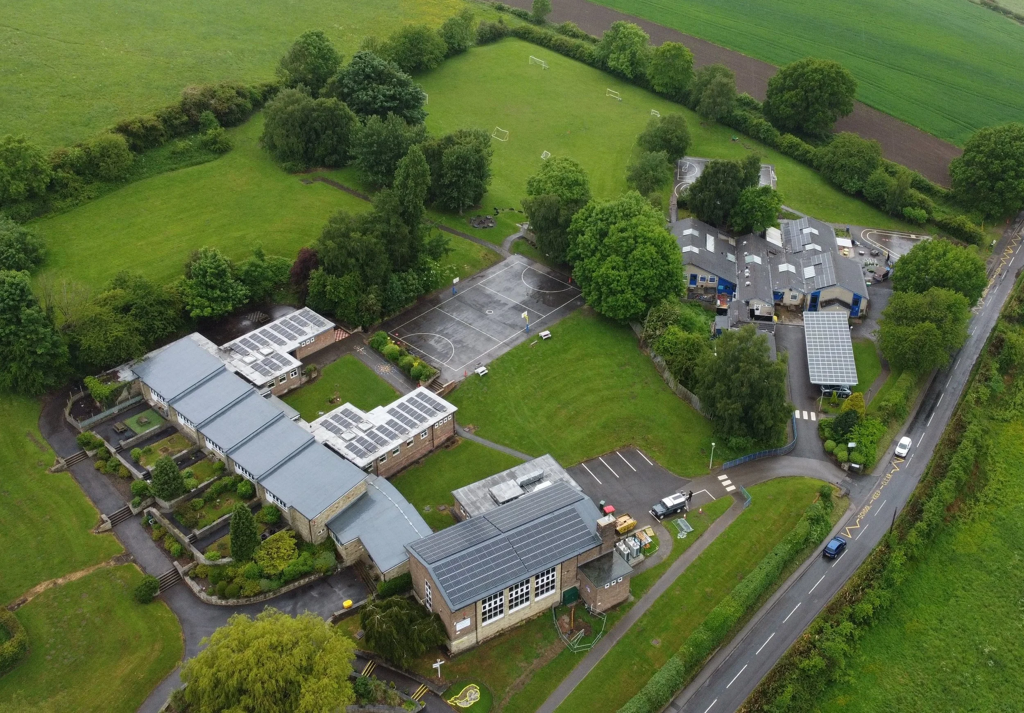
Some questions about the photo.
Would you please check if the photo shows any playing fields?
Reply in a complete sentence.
Yes, the frame does contain a playing field.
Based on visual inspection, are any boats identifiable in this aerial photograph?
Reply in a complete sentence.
No, no boat can be seen from above.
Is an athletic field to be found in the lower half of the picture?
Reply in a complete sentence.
No, there's no athletic field to be seen in the lower half of the picture.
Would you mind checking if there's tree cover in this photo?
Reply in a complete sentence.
Yes, tree cover shows up in the scene.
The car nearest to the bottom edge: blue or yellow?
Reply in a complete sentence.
The car nearest to the bottom edge is blue.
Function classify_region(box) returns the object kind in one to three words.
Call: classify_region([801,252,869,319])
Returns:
building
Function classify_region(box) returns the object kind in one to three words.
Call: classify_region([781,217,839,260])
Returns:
building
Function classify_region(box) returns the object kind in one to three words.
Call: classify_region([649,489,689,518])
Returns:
truck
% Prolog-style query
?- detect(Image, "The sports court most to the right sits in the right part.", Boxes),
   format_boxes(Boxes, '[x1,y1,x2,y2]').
[670,155,715,221]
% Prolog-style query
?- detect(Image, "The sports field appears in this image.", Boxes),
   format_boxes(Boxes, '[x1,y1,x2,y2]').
[419,38,907,227]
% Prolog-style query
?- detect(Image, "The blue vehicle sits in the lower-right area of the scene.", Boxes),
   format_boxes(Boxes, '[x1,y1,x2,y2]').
[822,533,847,558]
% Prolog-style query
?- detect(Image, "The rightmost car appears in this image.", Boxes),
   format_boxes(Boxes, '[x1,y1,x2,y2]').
[893,432,915,457]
